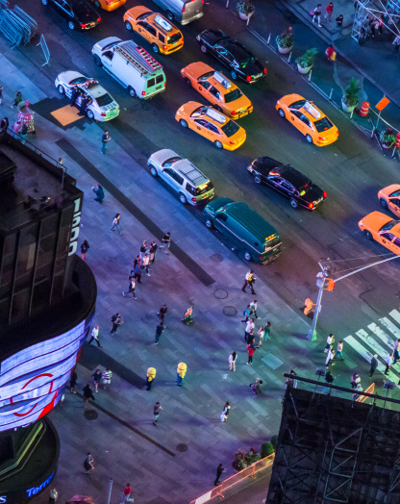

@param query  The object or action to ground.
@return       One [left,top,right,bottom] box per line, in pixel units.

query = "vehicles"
[374,186,400,227]
[120,7,187,59]
[201,198,289,271]
[152,0,206,22]
[269,96,345,152]
[51,71,125,129]
[245,158,331,219]
[144,151,221,214]
[83,0,130,18]
[355,216,400,267]
[88,37,171,105]
[170,104,252,158]
[38,0,107,40]
[192,30,273,89]
[178,64,257,125]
